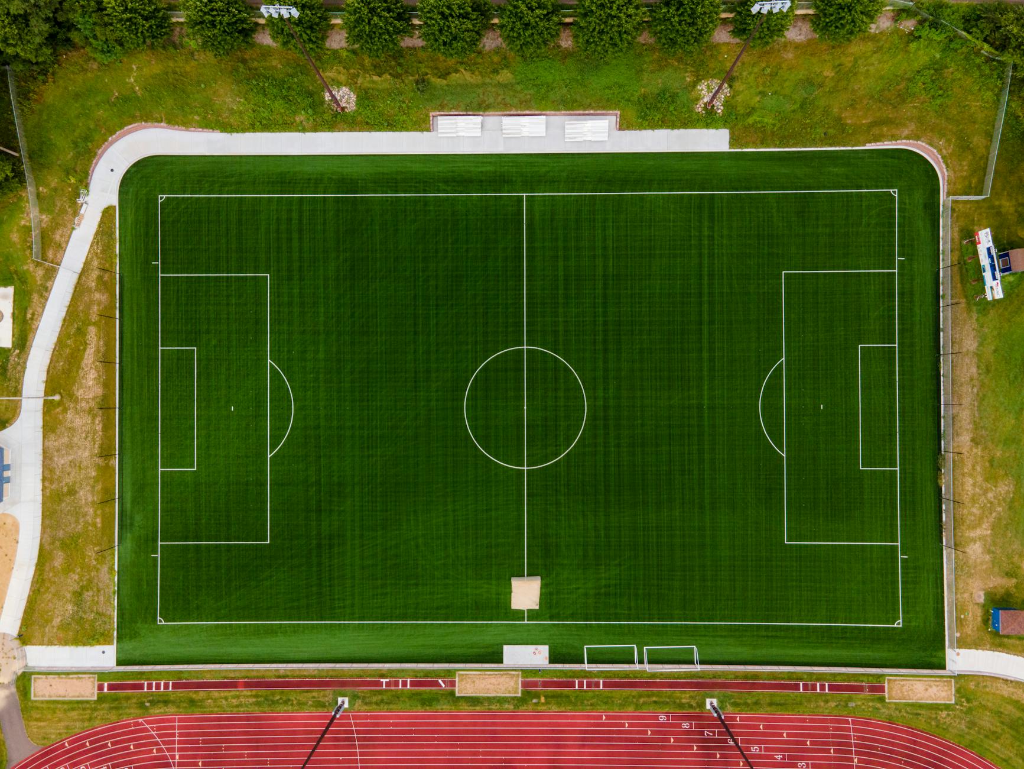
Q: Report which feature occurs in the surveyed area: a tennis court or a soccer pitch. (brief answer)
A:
soccer pitch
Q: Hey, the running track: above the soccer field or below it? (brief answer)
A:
below it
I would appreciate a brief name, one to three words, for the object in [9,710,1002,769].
running track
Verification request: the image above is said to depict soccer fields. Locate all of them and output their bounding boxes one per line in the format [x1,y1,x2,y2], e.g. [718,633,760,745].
[115,146,949,669]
